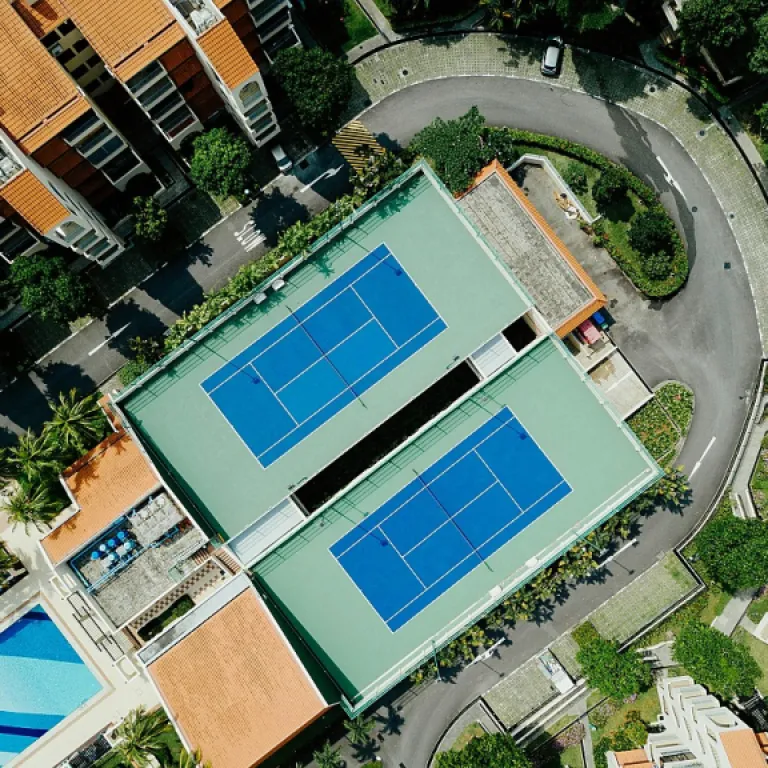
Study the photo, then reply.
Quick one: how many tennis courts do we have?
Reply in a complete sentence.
I count 2 tennis courts.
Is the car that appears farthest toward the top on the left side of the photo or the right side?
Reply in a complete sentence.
The car that appears farthest toward the top appears in the right half of the scene.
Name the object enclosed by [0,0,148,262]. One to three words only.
building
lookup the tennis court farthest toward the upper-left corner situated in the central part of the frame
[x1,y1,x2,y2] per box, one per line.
[116,165,534,545]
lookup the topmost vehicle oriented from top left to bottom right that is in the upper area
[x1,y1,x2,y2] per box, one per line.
[268,138,298,178]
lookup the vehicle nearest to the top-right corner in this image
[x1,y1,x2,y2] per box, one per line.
[538,38,564,80]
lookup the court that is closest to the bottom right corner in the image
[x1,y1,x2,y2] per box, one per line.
[251,335,662,708]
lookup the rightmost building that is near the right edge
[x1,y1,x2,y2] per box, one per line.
[632,674,768,768]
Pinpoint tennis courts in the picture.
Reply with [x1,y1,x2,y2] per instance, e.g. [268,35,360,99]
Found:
[116,165,534,545]
[251,335,662,708]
